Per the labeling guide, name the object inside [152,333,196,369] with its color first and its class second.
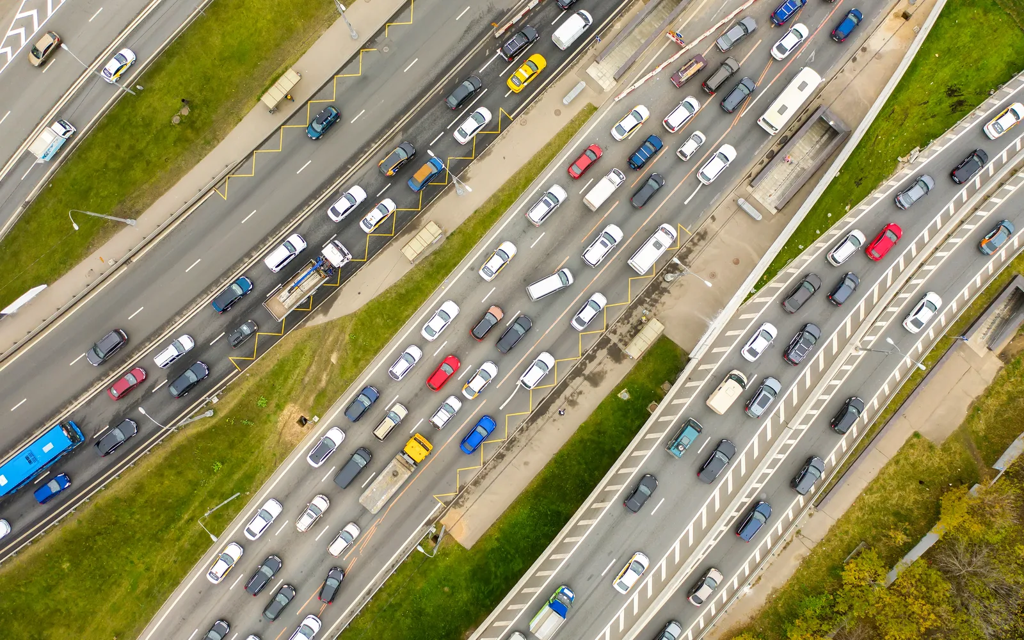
white car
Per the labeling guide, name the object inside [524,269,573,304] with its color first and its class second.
white vehicle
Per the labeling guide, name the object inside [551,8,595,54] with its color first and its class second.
white van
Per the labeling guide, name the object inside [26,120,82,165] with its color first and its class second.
white truck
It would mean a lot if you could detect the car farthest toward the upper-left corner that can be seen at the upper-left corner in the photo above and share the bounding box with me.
[27,28,64,68]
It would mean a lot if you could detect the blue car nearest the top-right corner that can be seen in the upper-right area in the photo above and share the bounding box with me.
[830,8,864,45]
